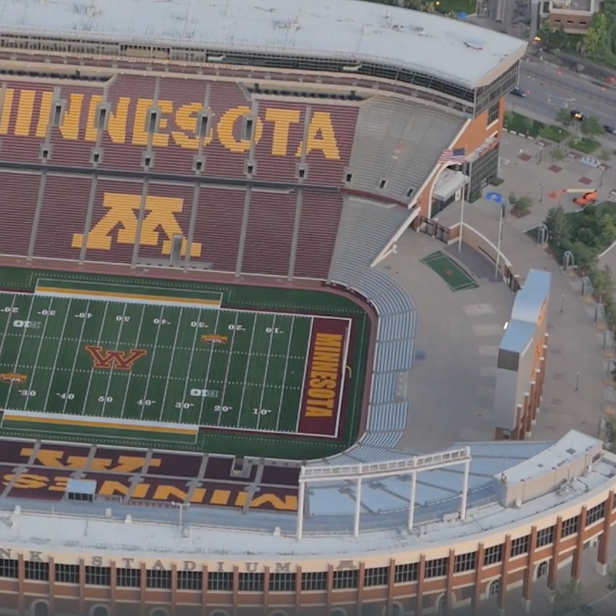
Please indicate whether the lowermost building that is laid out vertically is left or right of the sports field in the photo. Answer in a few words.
on its right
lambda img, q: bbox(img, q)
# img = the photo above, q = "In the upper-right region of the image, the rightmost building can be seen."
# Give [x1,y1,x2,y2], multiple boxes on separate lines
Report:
[550,0,594,34]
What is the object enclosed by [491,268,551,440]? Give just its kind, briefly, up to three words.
building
